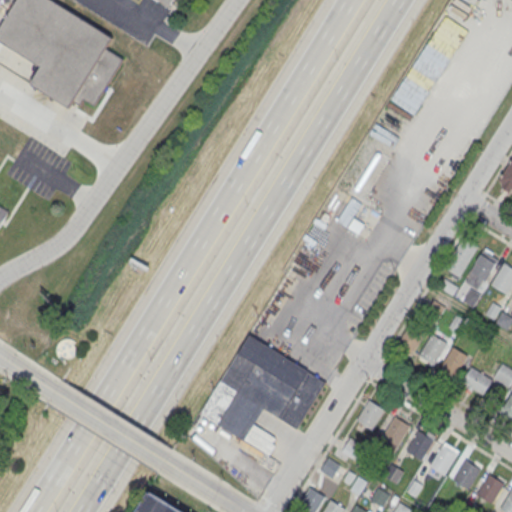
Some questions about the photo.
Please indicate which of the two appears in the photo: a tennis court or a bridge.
bridge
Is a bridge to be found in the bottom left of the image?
Yes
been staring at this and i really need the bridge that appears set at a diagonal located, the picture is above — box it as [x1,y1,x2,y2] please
[52,383,177,474]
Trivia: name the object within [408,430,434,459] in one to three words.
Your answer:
house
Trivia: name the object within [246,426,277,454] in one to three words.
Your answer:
building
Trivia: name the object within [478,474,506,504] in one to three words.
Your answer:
house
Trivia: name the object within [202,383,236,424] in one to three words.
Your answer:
shed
